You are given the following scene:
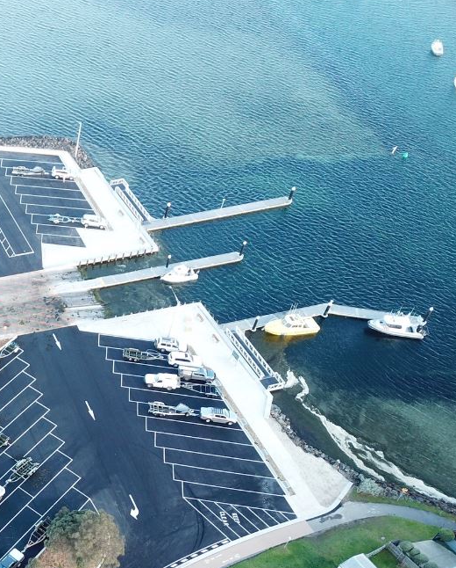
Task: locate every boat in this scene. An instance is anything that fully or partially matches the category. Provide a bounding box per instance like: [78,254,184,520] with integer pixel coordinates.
[266,308,322,335]
[368,313,428,339]
[431,39,443,58]
[161,262,199,285]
